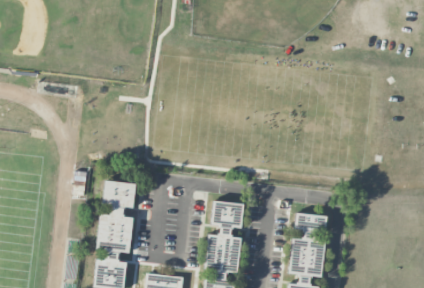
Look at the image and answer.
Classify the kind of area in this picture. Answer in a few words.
sports ground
